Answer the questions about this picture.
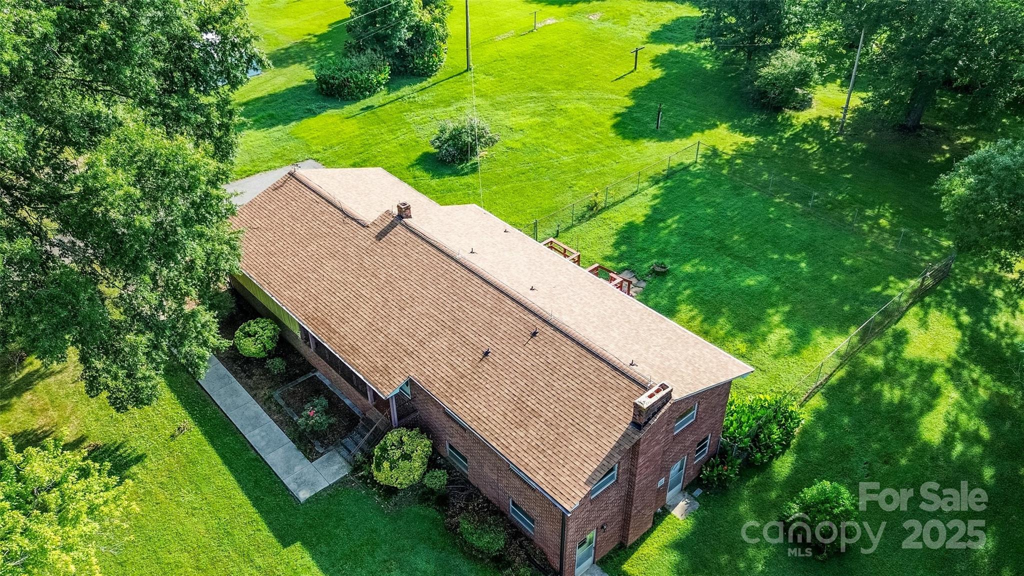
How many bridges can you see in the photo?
0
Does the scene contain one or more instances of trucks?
No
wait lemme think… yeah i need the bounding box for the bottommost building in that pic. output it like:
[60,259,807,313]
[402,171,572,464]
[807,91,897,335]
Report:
[204,167,754,576]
